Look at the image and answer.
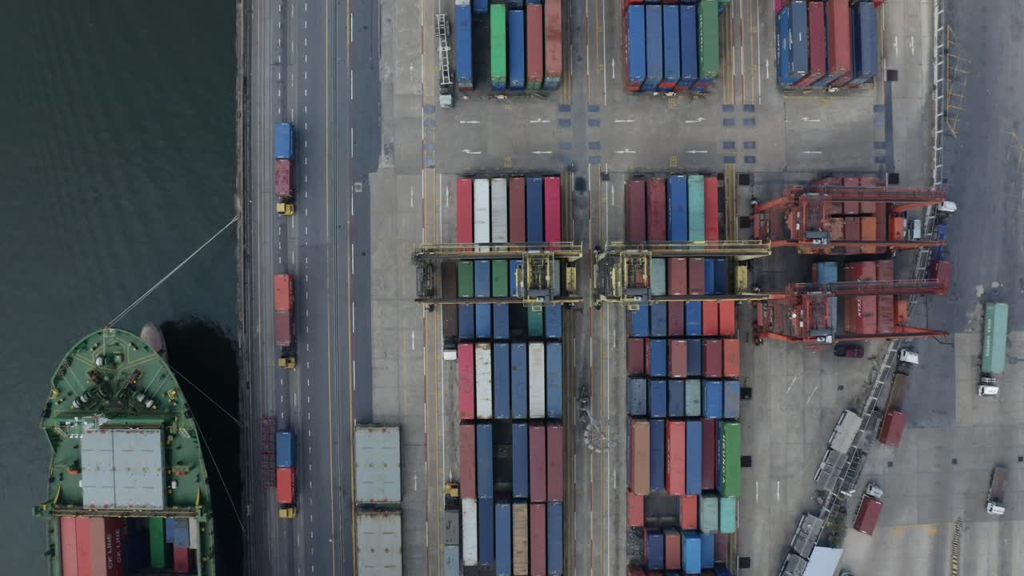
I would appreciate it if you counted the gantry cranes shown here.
4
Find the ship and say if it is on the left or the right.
left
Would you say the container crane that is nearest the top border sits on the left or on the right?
right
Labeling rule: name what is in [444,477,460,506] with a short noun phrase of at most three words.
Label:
vehicle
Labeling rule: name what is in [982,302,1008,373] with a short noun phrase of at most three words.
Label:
shipping container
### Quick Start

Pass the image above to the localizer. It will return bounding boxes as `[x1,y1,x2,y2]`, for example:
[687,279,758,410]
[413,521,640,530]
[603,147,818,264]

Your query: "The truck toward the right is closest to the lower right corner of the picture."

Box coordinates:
[981,460,1007,516]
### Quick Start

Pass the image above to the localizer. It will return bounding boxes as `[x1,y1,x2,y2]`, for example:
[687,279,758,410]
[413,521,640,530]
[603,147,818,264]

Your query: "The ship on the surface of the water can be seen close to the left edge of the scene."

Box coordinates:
[33,323,226,576]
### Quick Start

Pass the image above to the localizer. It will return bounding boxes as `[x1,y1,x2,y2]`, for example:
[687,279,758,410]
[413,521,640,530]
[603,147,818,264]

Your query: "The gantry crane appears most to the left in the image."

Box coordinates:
[411,243,583,314]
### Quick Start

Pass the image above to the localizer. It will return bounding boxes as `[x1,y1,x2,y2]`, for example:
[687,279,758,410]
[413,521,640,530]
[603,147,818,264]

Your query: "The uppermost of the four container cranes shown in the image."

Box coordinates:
[751,185,952,263]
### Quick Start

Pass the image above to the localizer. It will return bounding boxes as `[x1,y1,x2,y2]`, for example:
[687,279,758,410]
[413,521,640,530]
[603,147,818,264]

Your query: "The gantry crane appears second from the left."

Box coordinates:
[593,242,777,315]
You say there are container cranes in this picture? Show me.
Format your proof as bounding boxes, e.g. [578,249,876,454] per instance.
[753,273,954,347]
[593,242,777,315]
[411,243,583,314]
[751,185,952,263]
